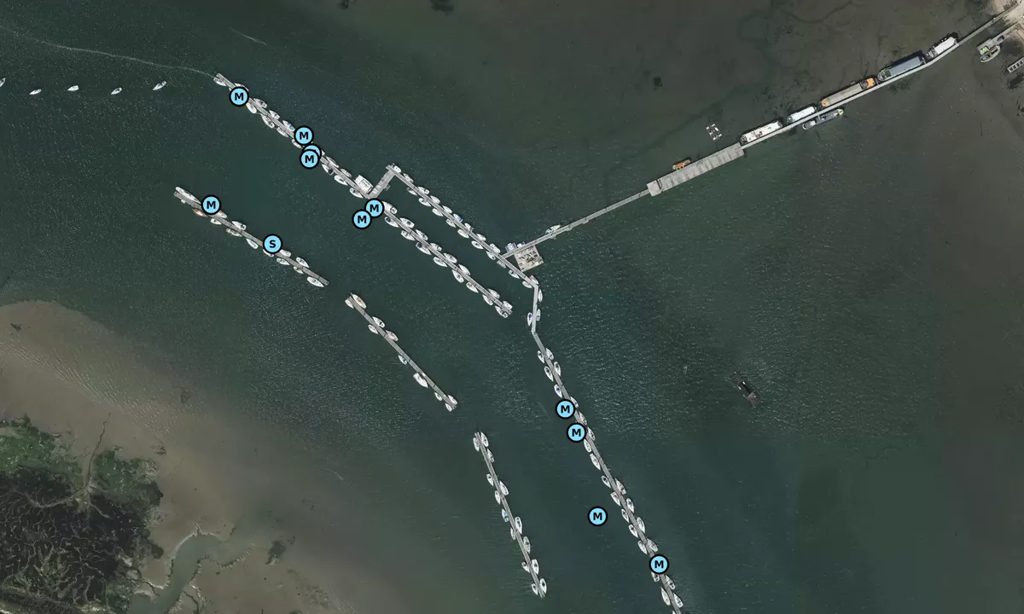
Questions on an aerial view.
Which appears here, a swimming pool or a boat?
boat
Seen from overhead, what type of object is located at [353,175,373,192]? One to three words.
boat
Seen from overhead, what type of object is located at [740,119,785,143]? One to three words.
boat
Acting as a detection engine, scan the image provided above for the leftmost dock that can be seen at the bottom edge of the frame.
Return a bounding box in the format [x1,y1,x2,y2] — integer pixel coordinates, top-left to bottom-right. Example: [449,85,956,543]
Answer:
[475,433,545,598]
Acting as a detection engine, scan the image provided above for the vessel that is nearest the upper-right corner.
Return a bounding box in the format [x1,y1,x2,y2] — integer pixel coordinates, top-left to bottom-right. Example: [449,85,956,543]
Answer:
[980,46,1001,62]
